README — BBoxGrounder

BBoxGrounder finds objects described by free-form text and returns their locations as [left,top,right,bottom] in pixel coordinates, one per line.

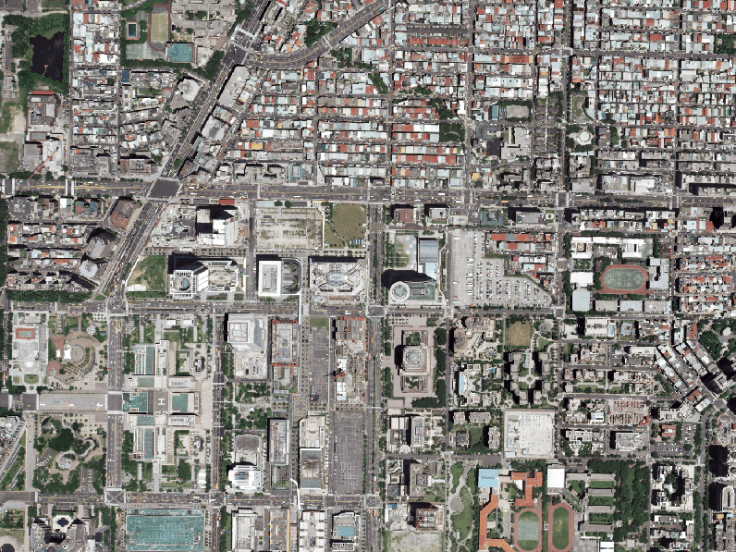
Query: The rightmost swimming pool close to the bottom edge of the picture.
[53,515,71,531]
